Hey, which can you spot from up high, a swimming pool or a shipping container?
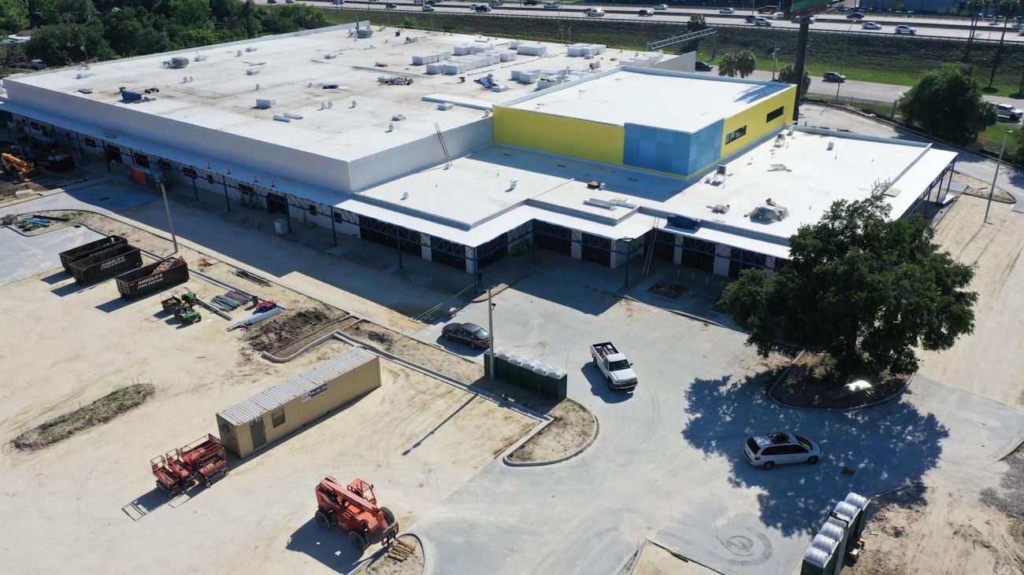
shipping container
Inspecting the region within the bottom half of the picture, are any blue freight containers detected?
No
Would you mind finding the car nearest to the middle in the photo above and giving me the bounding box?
[447,319,497,349]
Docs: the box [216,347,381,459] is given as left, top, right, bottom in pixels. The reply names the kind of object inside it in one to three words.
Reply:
shipping container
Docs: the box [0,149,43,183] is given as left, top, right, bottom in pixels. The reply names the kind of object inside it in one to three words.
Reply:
work vehicle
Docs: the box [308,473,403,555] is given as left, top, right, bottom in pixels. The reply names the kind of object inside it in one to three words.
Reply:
work vehicle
